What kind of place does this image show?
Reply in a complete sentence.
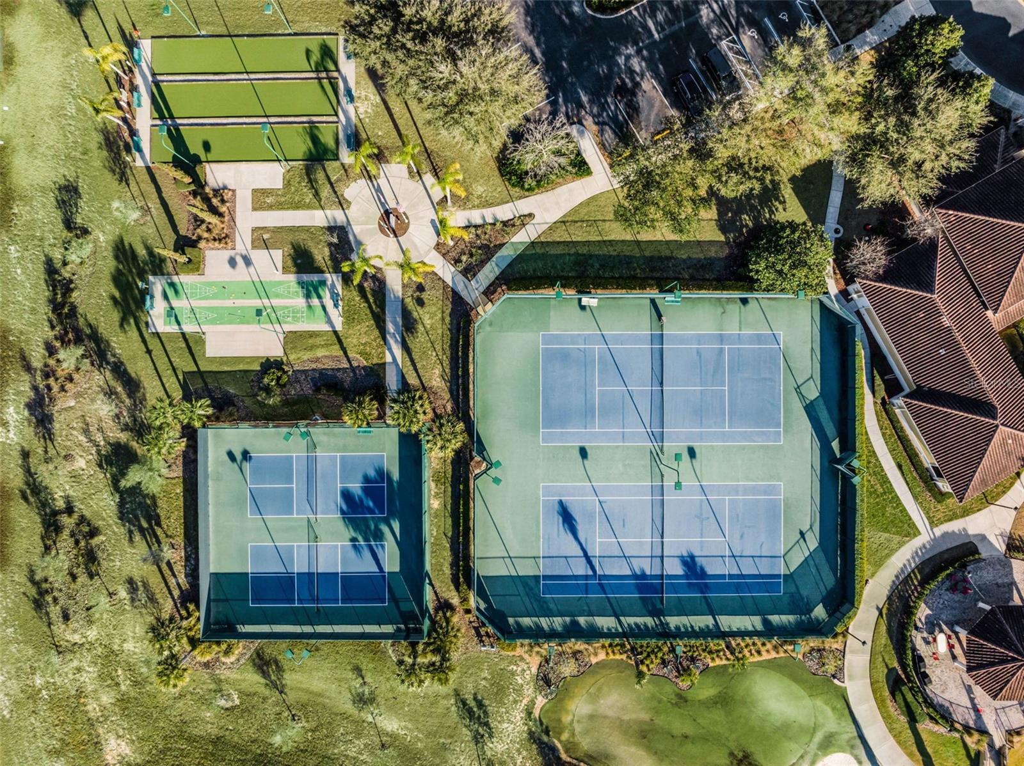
This image shows a sports ground.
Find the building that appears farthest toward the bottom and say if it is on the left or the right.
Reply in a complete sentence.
It is on the right.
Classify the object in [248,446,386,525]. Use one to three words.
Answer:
sports court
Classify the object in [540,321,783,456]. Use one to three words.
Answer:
tennis court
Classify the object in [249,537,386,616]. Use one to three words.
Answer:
sports court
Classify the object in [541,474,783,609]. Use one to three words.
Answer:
tennis court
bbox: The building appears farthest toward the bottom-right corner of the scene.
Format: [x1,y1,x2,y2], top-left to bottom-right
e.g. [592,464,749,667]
[950,598,1024,703]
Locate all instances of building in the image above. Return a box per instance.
[950,598,1024,703]
[850,125,1024,503]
